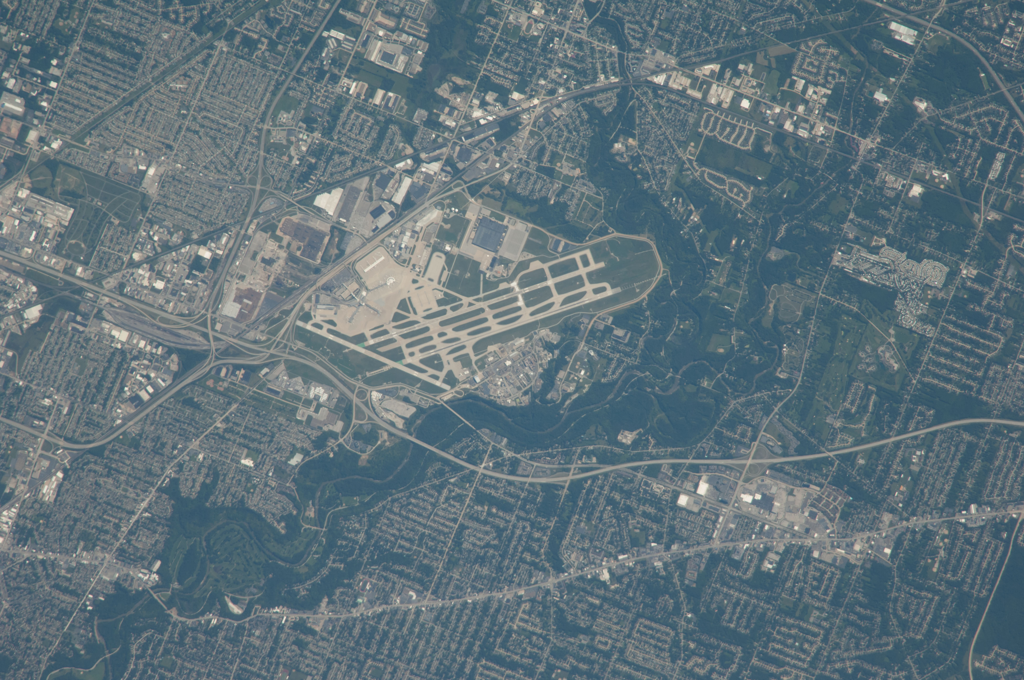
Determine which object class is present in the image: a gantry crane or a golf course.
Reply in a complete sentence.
Looking from above, you can make out a golf course.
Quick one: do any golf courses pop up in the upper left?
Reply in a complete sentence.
No, there is no golf course in the upper left.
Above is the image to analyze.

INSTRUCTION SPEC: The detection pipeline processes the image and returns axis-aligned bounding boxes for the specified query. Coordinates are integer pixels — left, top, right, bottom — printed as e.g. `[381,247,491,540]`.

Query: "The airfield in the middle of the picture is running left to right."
[295,221,663,390]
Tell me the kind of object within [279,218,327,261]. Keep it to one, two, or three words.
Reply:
building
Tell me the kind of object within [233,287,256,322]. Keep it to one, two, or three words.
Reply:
building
